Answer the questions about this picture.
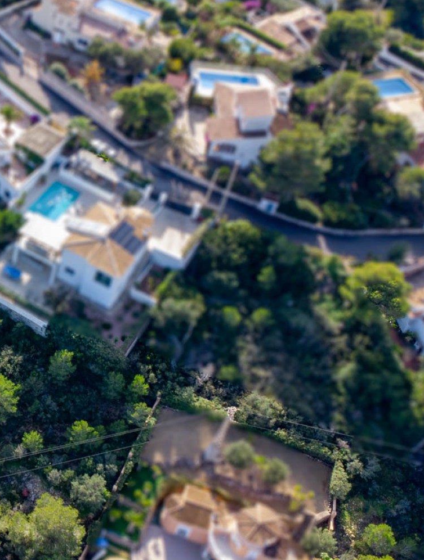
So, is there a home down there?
Yes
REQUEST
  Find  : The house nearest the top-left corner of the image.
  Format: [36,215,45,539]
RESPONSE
[32,0,96,59]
